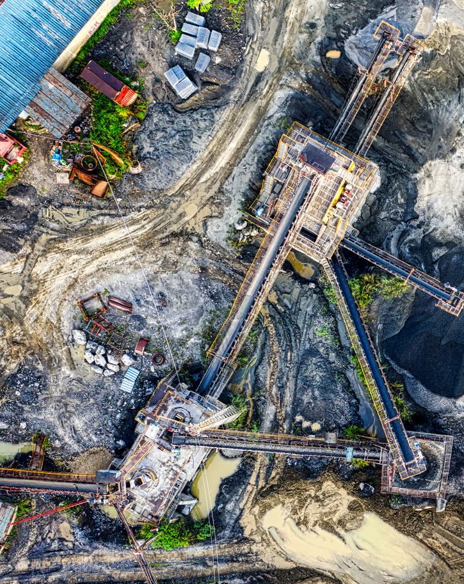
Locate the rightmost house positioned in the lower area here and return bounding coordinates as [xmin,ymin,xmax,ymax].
[122,368,231,528]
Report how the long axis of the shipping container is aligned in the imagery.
at an angle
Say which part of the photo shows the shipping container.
top left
